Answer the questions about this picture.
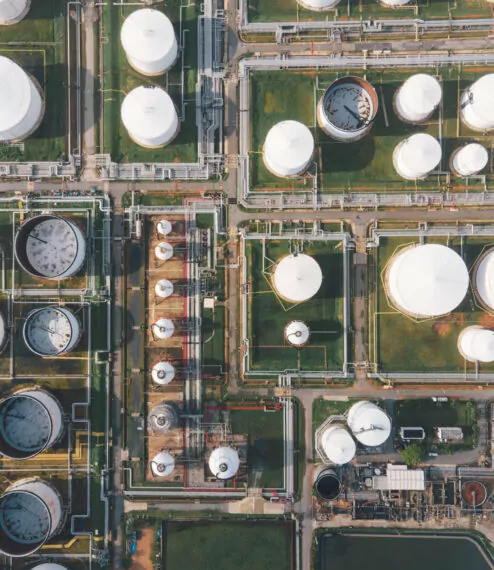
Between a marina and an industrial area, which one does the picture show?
industrial area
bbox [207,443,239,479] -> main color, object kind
white storage tank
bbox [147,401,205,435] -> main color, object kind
gray storage tank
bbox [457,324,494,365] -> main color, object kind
white storage tank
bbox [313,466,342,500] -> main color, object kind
black storage tank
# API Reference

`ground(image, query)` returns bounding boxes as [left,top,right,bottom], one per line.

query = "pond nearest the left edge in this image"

[164,522,292,570]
